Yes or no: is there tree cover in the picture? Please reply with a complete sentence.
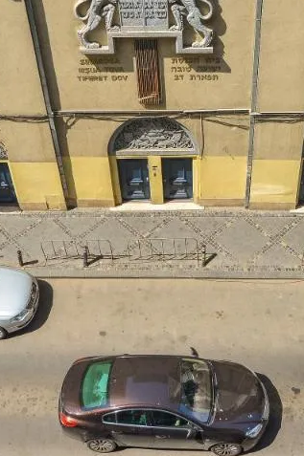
No, there's no tree cover in this view.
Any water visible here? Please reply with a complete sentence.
No, the picture contains no water.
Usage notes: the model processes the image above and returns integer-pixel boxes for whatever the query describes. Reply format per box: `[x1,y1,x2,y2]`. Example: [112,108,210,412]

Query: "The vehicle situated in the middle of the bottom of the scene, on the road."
[57,343,270,456]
